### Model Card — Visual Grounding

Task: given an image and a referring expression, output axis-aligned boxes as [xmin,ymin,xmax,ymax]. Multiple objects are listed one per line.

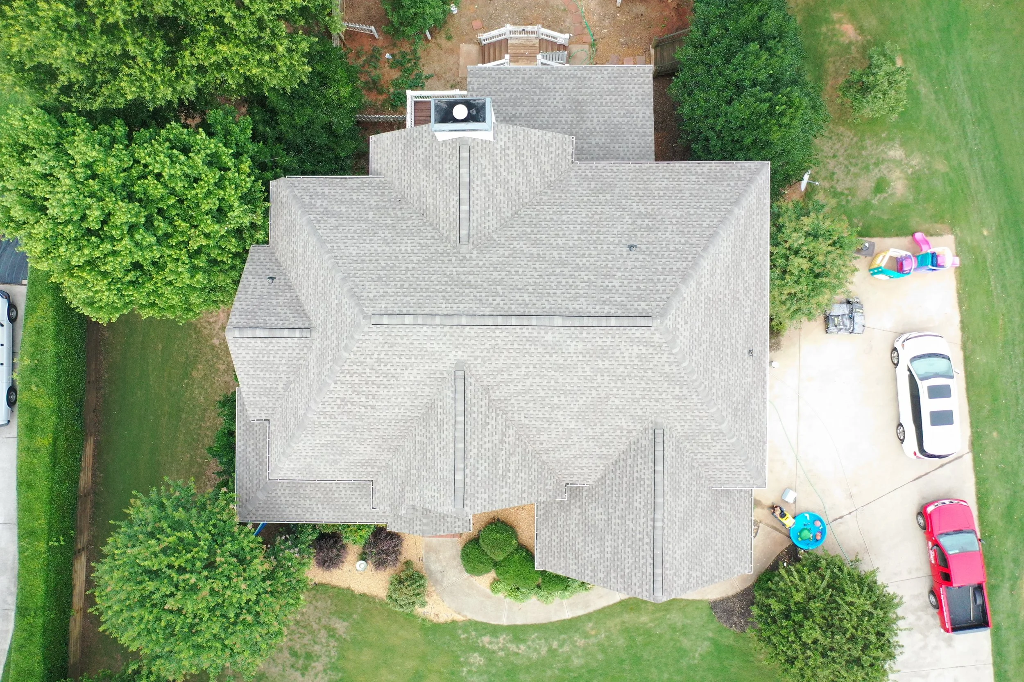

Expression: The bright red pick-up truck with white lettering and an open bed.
[917,495,996,639]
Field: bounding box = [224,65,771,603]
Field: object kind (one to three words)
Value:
house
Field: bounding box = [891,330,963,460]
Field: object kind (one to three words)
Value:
car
